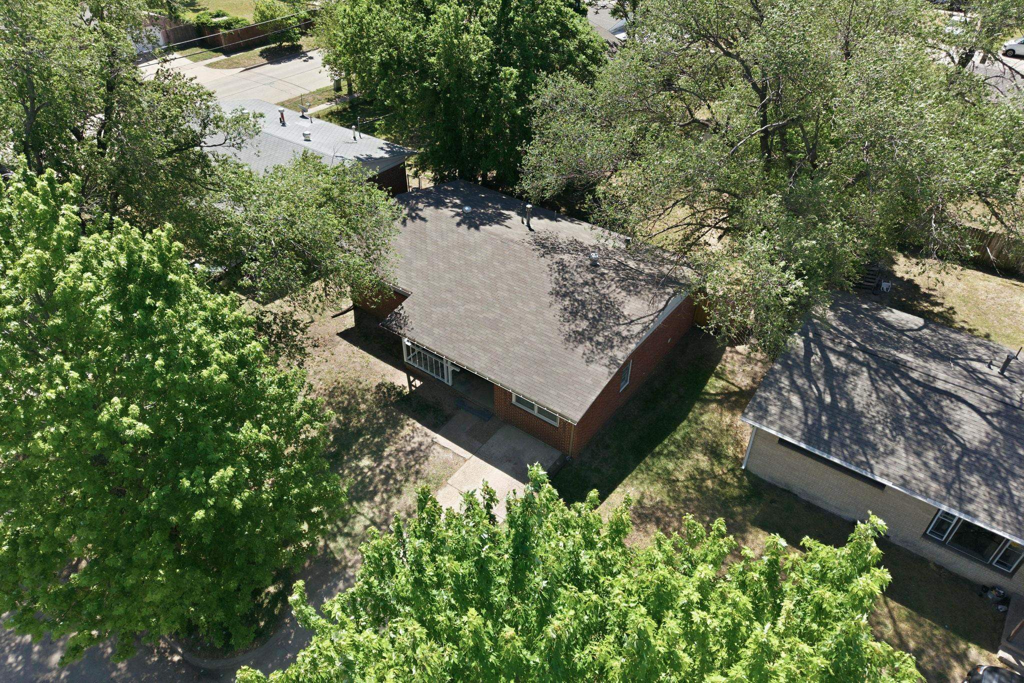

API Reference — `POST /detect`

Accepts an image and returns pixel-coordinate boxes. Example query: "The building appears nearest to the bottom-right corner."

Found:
[737,286,1024,593]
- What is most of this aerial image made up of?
trees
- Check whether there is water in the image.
No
